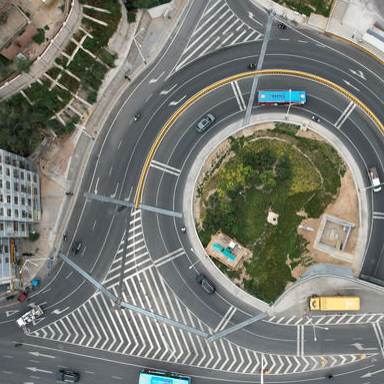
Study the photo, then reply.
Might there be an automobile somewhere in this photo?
Yes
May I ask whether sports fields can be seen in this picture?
No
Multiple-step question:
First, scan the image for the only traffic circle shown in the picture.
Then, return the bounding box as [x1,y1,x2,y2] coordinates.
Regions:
[138,17,384,312]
